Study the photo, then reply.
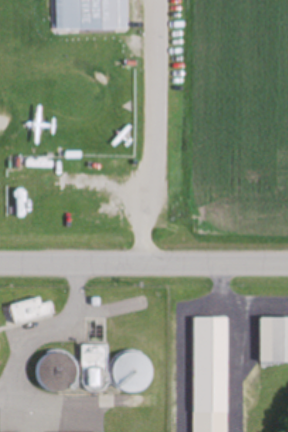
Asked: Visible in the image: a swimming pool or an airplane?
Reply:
airplane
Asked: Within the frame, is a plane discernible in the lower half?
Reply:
No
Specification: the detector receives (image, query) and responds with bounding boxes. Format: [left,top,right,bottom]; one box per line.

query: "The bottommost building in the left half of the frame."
[81,344,109,394]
